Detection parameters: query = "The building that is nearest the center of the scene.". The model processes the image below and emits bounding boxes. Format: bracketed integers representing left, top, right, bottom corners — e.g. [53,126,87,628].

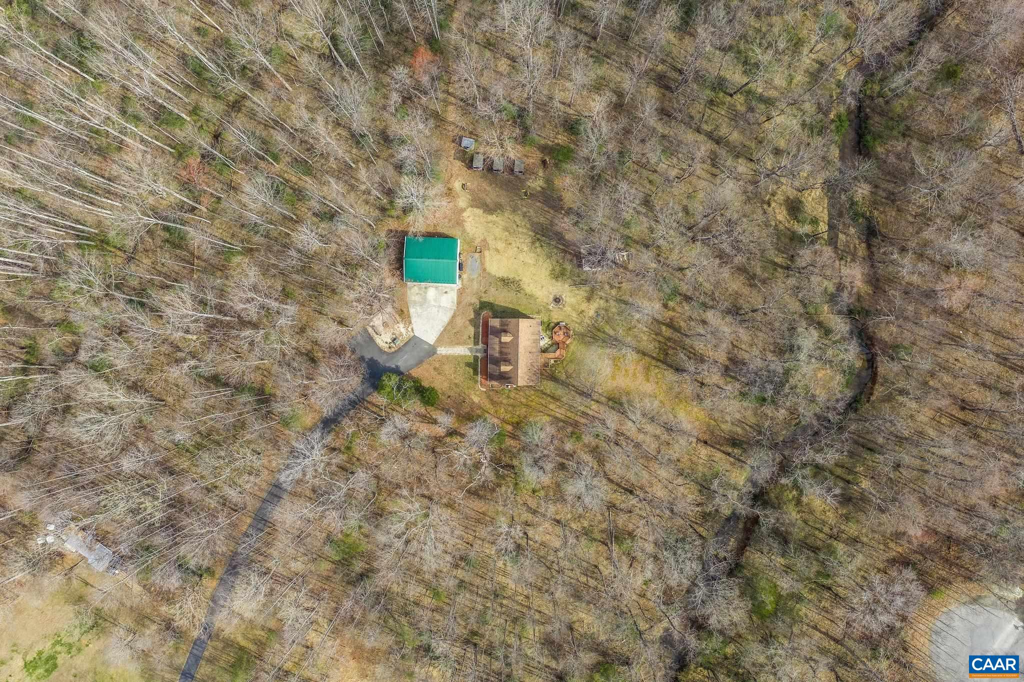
[484,317,542,391]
